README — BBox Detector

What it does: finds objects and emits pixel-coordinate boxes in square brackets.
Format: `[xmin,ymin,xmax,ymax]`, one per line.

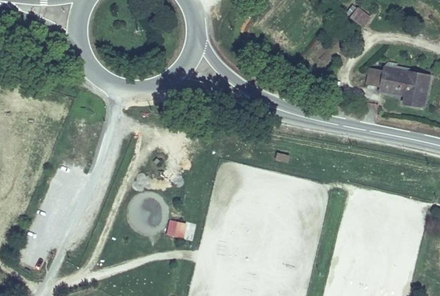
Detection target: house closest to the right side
[367,62,433,108]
